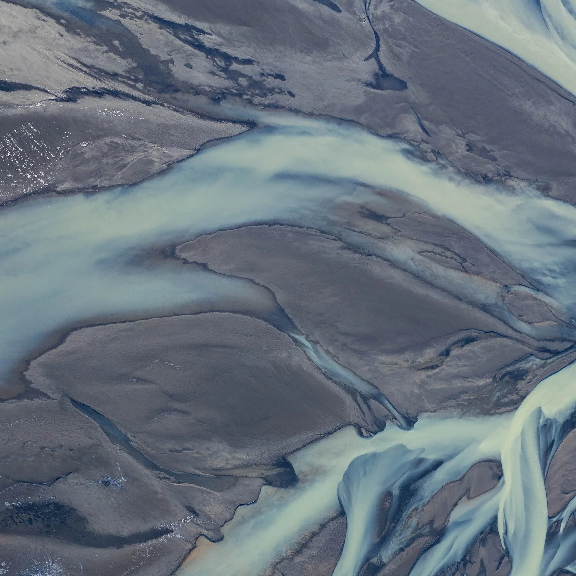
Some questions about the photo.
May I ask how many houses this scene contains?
0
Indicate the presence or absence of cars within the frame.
No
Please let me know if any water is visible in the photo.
Yes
